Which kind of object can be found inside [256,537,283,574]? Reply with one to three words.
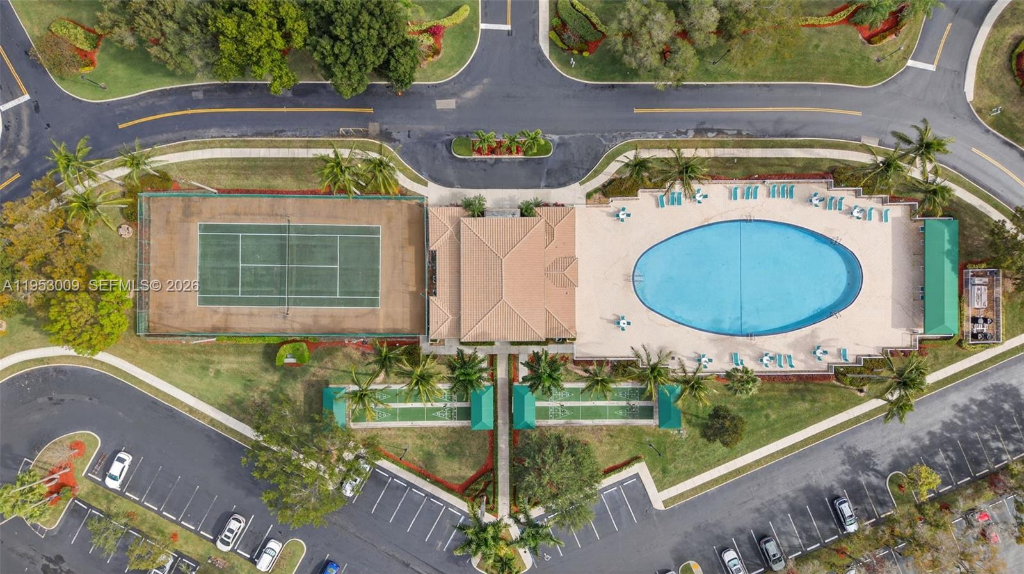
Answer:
car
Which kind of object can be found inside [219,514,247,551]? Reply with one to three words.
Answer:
car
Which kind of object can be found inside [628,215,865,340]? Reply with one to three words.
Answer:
swimming pool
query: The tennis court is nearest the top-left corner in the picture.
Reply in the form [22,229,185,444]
[149,197,428,334]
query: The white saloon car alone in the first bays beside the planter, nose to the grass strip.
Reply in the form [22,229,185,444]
[108,451,134,489]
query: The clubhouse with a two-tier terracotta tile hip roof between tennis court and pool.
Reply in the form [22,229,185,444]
[429,206,579,342]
